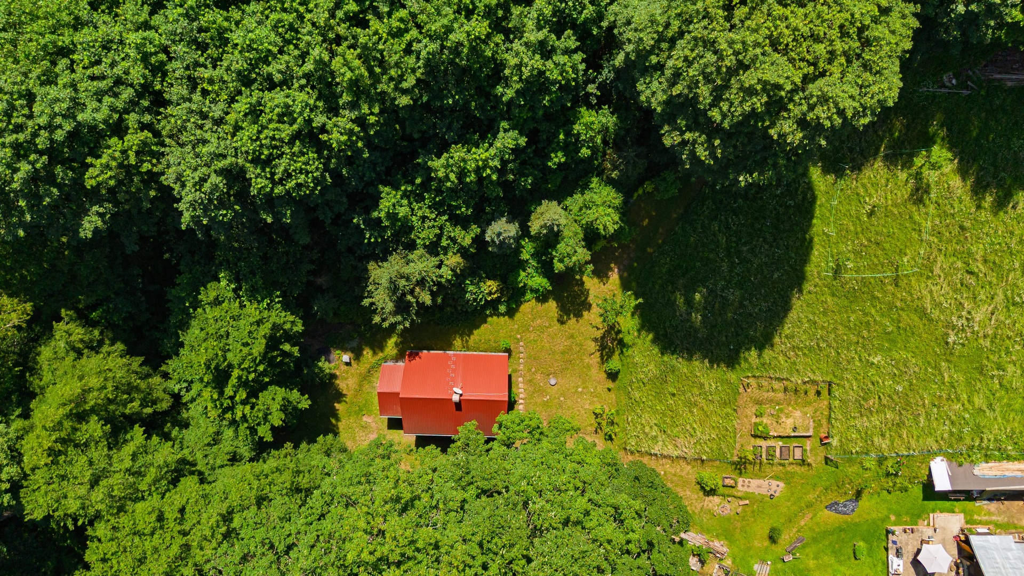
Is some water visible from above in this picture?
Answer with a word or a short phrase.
No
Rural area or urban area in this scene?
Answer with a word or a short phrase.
rural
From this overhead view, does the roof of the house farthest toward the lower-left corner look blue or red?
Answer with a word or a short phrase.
red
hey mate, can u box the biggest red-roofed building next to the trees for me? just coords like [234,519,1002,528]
[378,350,510,438]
